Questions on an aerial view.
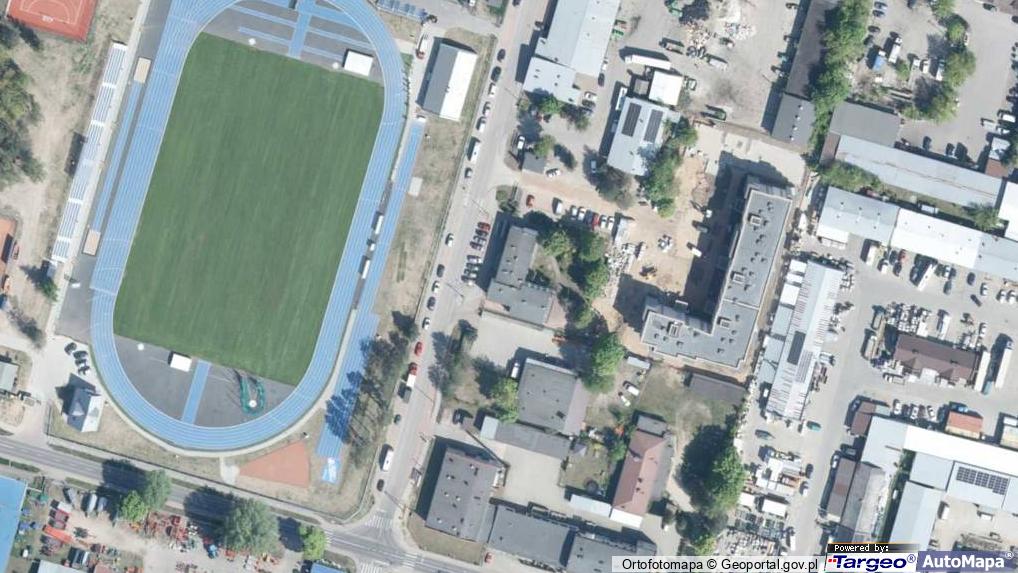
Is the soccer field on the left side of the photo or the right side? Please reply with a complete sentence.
You can find the soccer field on the left side of the picture.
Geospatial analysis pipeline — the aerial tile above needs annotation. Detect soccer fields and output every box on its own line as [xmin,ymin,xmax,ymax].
[116,31,384,385]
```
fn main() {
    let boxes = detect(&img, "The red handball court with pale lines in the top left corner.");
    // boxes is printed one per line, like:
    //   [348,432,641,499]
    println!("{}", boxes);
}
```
[5,0,95,39]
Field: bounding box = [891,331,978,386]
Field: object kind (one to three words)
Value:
building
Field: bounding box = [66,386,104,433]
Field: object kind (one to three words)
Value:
house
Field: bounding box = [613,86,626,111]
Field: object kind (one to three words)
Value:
vehicle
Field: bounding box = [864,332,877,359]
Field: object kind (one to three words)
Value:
vehicle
